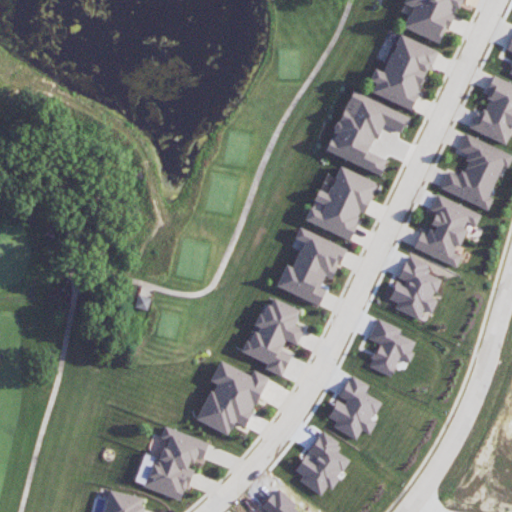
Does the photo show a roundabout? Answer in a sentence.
No, there is no roundabout in the image.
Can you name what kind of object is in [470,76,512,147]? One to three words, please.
house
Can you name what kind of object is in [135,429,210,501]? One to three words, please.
house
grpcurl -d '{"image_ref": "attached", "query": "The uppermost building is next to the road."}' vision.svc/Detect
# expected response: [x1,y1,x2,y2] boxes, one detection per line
[403,0,468,48]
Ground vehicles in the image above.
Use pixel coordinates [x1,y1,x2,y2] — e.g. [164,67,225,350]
[246,469,261,482]
[356,230,364,236]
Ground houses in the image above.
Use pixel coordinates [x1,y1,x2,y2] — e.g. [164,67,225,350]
[296,430,354,498]
[414,195,483,266]
[442,136,511,209]
[470,76,512,147]
[369,34,442,110]
[324,94,410,175]
[276,228,344,307]
[403,0,468,48]
[328,375,386,442]
[266,488,302,512]
[306,167,378,241]
[365,320,418,380]
[195,362,270,435]
[241,298,306,379]
[388,252,443,320]
[135,429,210,501]
[86,486,149,512]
